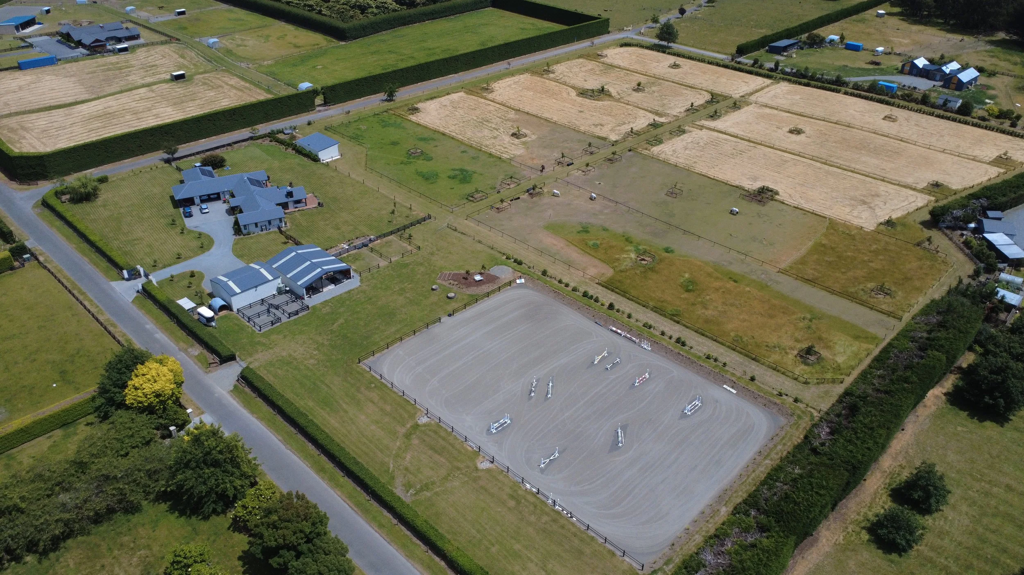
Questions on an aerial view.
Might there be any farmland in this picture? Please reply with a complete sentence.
Yes, farmland shows up in the scene.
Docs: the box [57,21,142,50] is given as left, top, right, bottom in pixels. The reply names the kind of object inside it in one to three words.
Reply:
house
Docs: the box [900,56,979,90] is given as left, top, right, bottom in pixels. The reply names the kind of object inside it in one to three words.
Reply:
house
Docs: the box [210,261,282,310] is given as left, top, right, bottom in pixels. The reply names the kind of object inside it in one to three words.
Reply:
shed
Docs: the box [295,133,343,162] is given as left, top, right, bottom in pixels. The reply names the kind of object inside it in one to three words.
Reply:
shed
